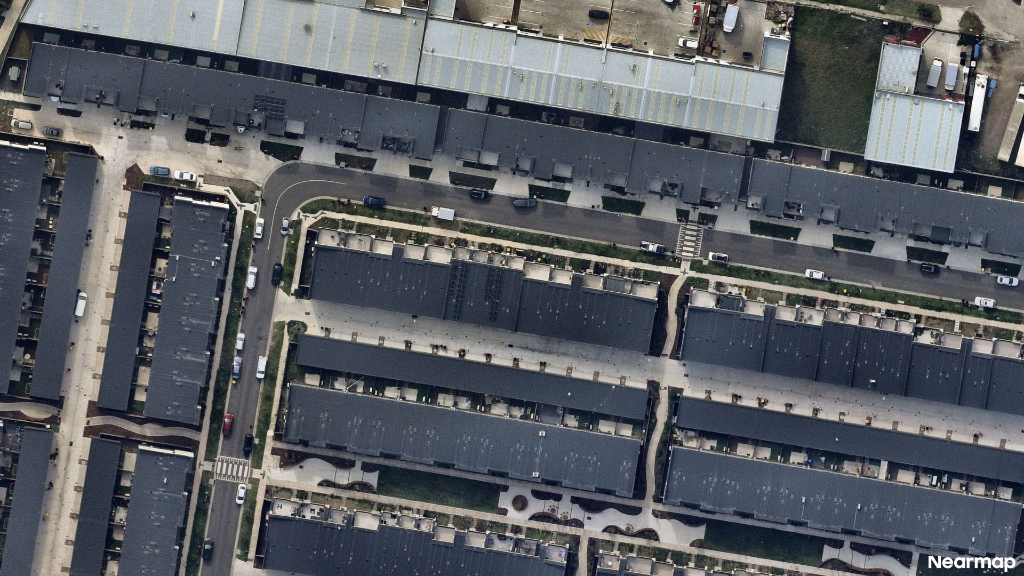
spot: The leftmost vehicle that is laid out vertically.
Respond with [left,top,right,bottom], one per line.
[75,292,87,318]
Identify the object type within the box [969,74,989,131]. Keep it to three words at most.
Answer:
trailer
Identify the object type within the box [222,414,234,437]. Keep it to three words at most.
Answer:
vehicle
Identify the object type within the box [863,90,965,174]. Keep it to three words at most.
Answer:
building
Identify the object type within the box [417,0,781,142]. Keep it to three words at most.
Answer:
warehouse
